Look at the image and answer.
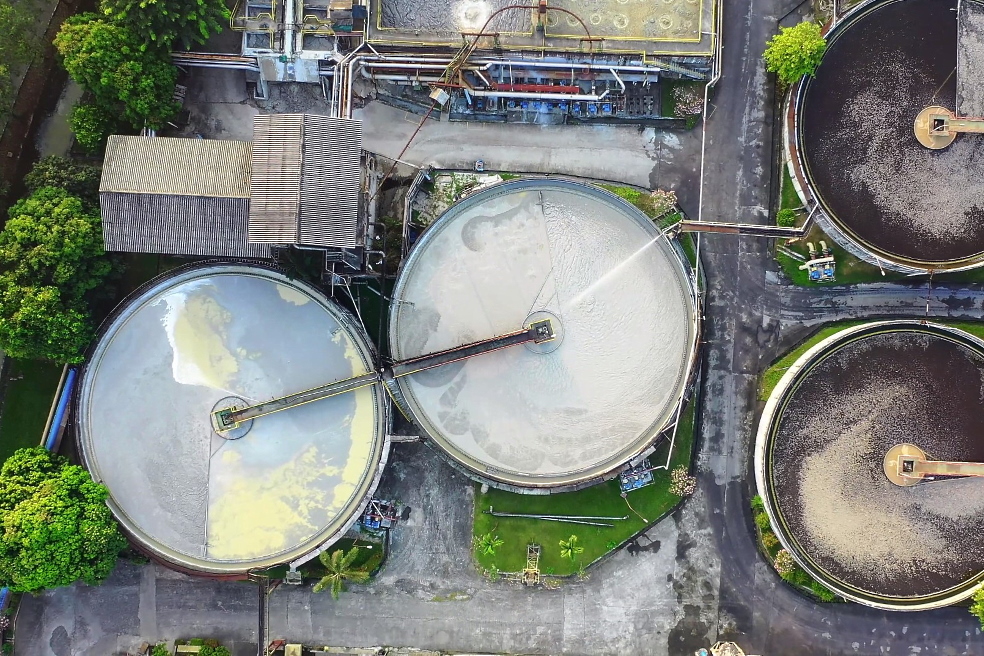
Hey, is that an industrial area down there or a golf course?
industrial area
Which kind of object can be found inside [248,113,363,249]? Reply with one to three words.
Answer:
shed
